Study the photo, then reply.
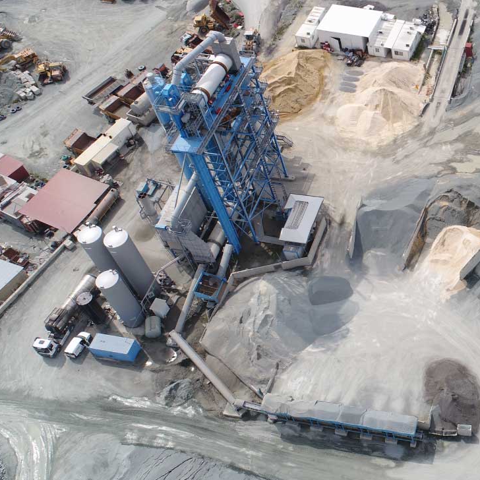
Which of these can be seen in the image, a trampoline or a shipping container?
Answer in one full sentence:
The image shows a shipping container.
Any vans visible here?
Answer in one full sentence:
Yes, a van can be made out from above.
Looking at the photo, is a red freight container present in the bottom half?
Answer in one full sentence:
No, there's no red freight container to be seen in the bottom half.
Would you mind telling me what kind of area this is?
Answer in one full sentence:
The picture captures an industrial area.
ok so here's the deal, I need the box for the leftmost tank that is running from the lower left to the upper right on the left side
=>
[92,188,129,227]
